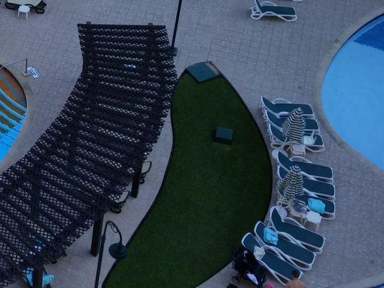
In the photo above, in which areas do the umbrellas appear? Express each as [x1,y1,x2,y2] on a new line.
[274,102,303,158]
[273,159,302,215]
